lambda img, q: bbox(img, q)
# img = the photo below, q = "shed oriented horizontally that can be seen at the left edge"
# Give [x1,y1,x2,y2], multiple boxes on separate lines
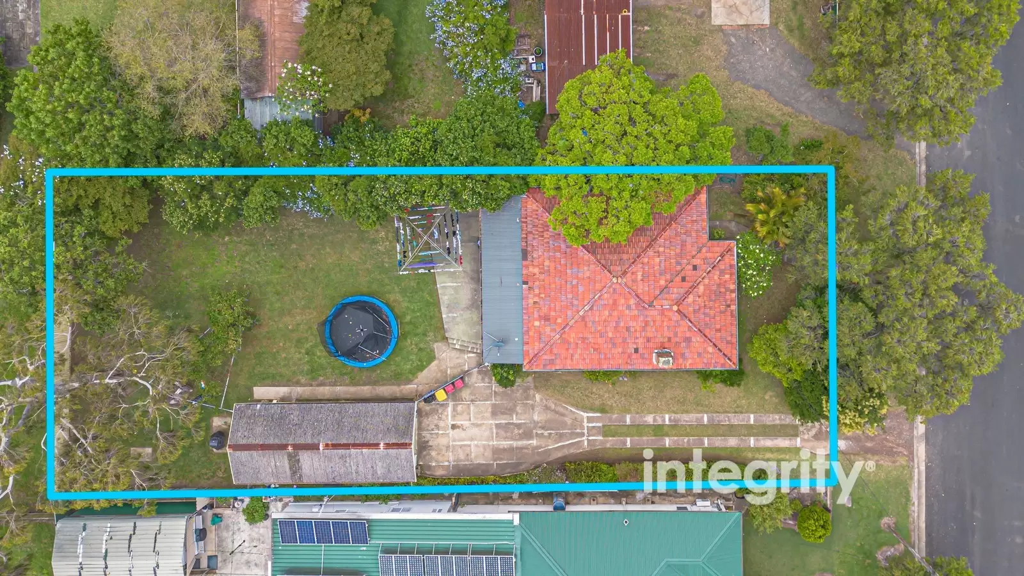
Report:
[47,505,213,576]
